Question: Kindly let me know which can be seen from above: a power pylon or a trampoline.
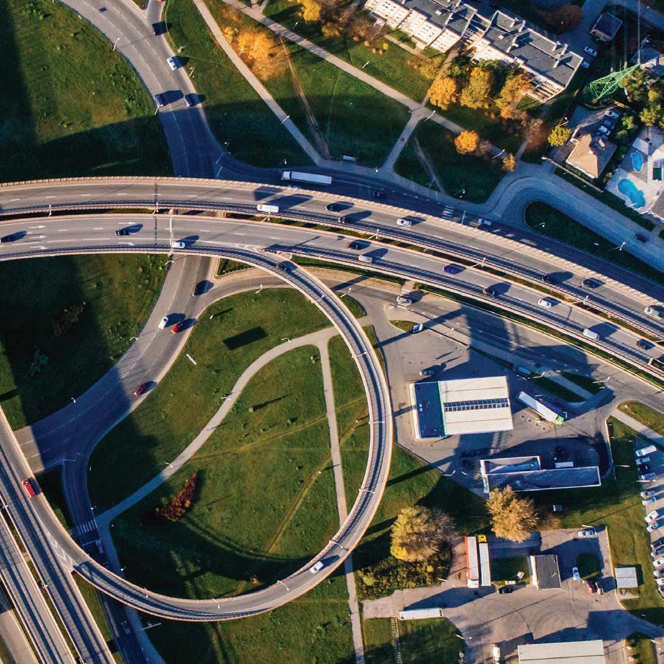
power pylon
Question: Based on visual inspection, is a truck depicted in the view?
Yes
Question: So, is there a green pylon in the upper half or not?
Yes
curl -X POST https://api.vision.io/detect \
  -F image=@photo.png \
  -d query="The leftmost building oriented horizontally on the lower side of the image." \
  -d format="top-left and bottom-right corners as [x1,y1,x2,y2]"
[475,456,542,474]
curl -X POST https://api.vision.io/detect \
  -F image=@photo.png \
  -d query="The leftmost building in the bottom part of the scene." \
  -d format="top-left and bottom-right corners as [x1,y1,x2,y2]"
[409,381,446,438]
